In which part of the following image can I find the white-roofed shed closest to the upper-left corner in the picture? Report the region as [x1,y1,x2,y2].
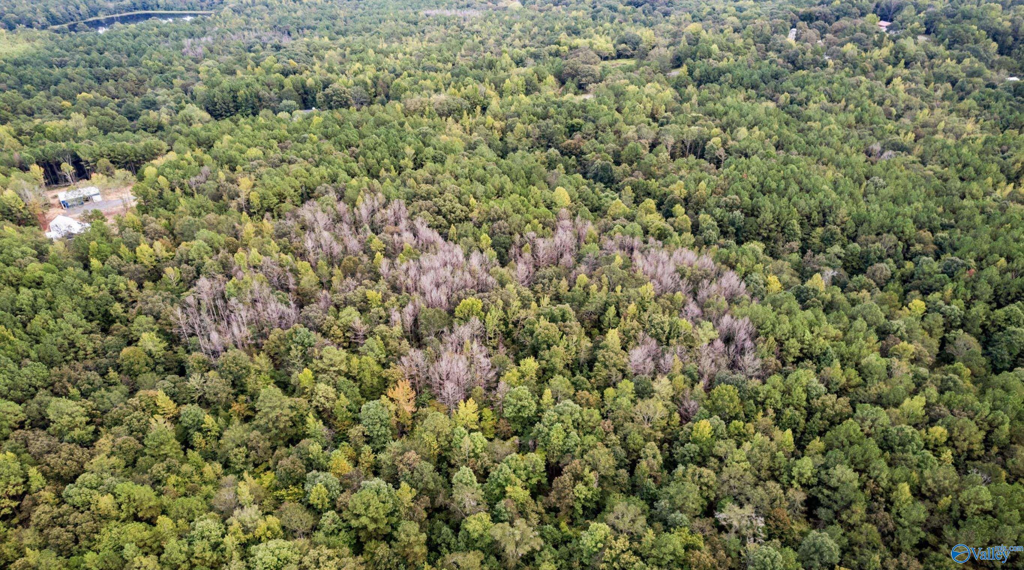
[59,183,103,209]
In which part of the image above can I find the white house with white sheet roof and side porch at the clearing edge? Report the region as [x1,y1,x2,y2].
[44,216,90,244]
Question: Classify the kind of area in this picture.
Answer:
forest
